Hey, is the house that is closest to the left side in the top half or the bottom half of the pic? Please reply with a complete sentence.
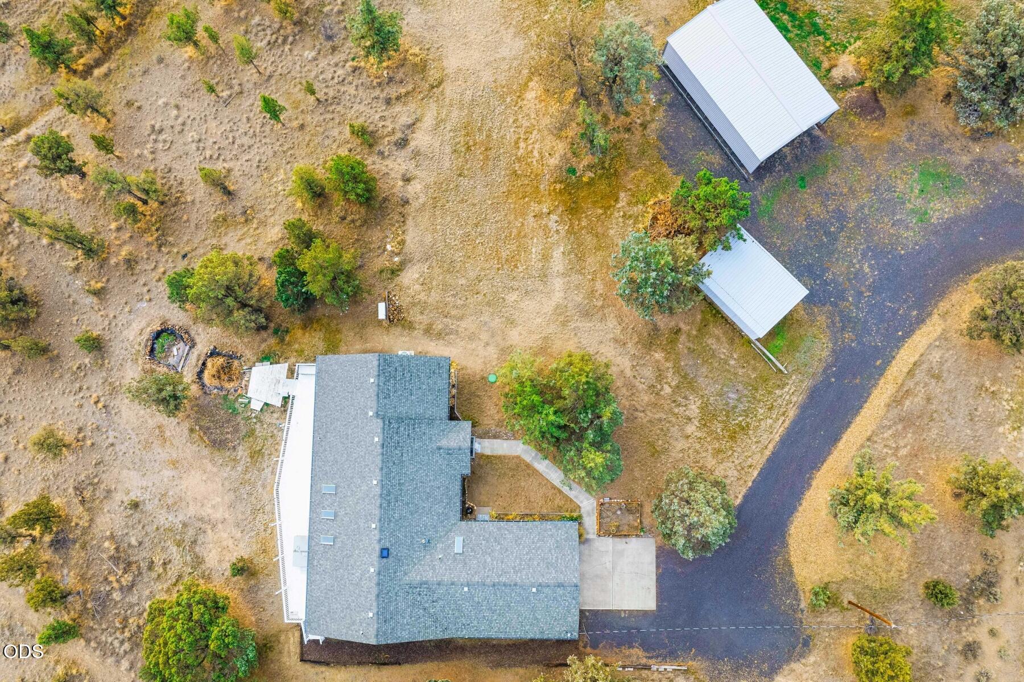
Seen from above, the house that is closest to the left side lies in the bottom half of the view.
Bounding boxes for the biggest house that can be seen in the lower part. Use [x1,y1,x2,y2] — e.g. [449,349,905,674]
[304,354,582,646]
